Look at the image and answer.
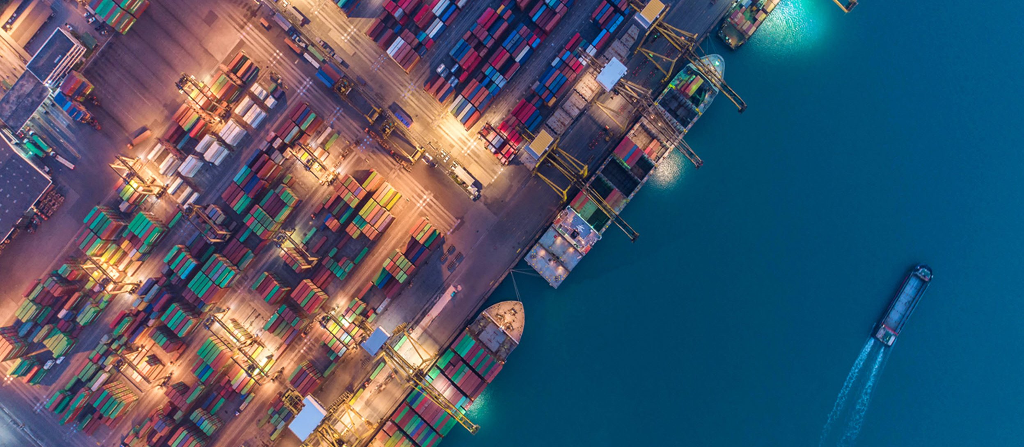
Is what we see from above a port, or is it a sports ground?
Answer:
port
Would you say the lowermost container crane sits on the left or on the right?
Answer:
left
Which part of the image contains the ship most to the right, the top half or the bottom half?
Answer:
bottom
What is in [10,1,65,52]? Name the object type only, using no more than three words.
shed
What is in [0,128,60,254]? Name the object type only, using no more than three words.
building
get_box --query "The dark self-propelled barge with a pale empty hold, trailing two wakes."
[872,264,934,347]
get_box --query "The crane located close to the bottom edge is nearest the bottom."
[293,389,386,447]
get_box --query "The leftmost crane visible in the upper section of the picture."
[108,154,168,197]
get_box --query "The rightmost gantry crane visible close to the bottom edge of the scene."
[356,317,480,438]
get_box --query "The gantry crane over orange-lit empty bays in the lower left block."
[111,346,171,393]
